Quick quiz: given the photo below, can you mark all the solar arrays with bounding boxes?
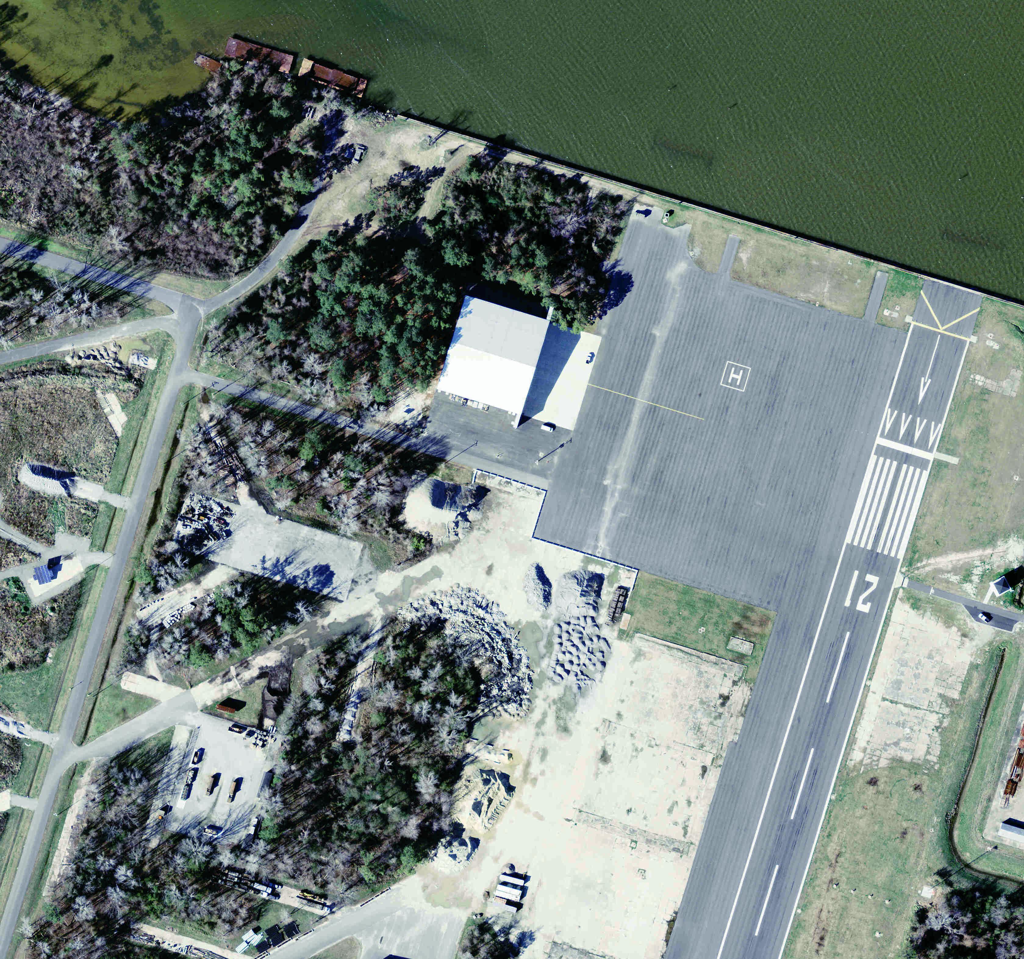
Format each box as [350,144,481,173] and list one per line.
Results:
[32,565,53,585]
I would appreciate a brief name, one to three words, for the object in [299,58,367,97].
ship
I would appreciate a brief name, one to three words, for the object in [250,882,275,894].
vehicle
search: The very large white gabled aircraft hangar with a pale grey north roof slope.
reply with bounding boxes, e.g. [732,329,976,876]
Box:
[437,295,553,428]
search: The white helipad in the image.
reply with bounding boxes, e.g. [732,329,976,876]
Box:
[721,361,751,391]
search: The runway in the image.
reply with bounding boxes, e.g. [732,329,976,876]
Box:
[719,280,982,959]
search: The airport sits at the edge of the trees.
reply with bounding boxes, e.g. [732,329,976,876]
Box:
[534,204,982,959]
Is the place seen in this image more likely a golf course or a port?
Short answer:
port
